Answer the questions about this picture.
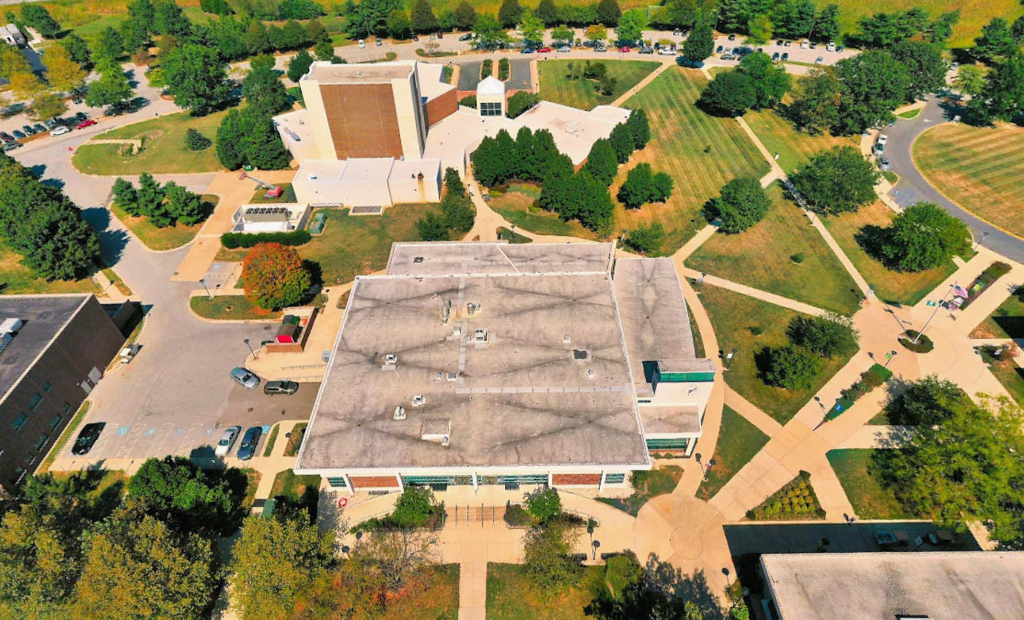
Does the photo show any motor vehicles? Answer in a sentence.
Yes, a motor vehicle is visible in the scene.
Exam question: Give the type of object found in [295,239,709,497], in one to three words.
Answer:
building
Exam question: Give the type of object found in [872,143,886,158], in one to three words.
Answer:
vehicle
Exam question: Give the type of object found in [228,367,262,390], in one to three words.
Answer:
car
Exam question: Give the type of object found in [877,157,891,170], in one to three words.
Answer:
vehicle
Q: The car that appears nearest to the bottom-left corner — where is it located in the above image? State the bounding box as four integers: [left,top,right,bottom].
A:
[70,419,108,457]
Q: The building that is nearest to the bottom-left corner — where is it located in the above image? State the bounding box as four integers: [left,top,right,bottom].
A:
[0,294,140,519]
